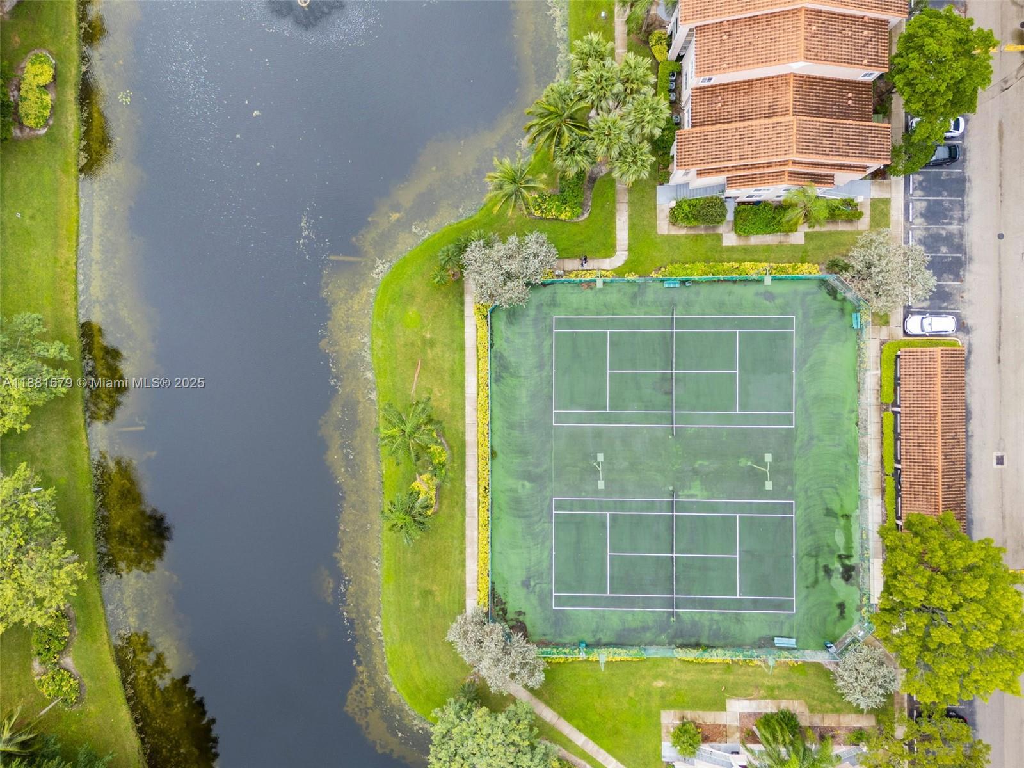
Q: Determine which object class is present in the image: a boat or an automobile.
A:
automobile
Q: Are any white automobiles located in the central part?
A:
No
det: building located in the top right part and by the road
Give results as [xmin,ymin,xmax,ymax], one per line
[669,0,909,206]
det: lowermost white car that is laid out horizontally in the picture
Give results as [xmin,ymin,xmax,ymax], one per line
[903,312,962,337]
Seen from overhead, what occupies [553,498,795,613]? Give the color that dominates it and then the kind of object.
green tennis court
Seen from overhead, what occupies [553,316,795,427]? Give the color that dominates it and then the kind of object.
green tennis court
